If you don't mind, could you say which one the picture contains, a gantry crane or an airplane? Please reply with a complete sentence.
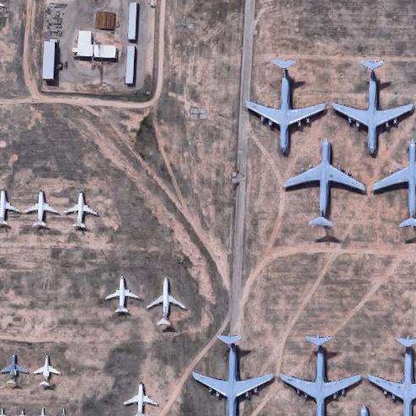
The one in the frame is an airplane.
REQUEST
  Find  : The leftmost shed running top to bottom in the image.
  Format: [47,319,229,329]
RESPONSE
[42,41,58,81]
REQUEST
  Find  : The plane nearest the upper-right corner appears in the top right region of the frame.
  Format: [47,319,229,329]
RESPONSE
[334,59,413,157]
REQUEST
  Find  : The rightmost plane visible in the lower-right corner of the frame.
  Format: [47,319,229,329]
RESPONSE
[368,336,416,416]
